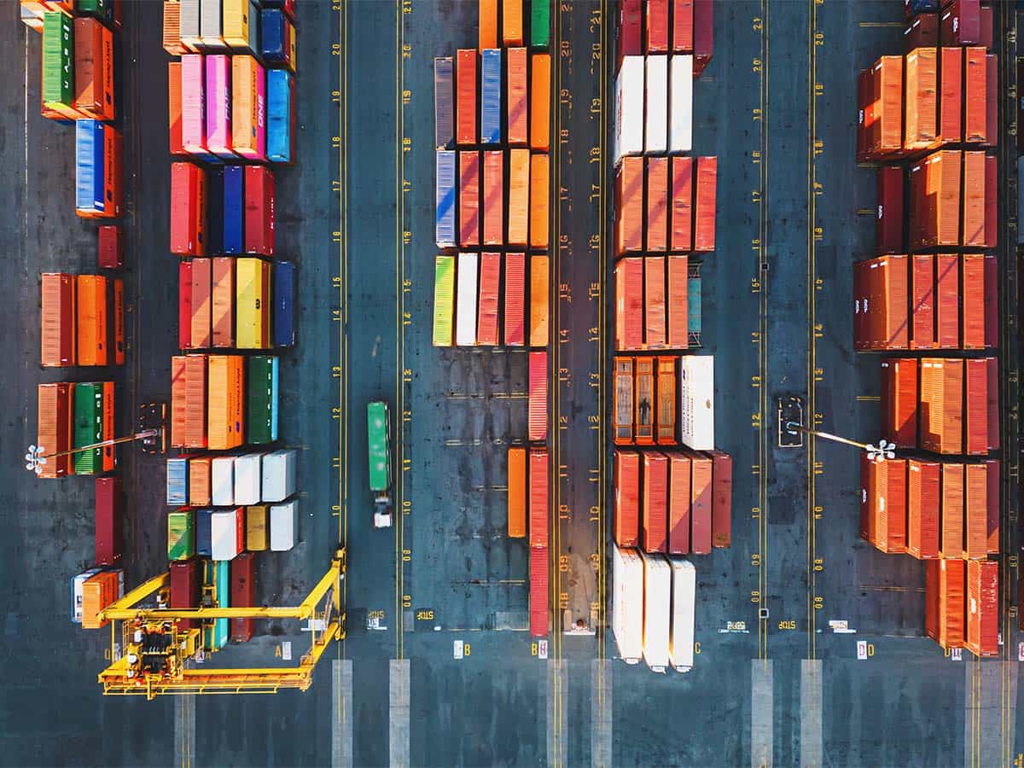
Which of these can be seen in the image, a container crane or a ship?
container crane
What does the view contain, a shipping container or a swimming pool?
shipping container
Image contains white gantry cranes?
No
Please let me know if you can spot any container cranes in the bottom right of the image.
No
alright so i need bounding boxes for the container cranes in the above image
[100,550,345,706]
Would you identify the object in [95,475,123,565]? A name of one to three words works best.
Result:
shipping container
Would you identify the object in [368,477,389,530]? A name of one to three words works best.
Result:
truck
